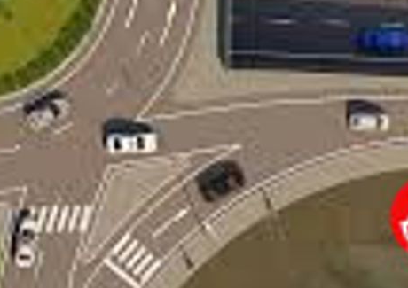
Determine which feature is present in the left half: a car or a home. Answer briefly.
car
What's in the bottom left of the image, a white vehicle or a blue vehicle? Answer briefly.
white vehicle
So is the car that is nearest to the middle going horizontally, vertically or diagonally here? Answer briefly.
diagonally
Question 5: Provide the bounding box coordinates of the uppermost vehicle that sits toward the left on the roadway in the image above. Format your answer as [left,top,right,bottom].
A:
[24,96,68,130]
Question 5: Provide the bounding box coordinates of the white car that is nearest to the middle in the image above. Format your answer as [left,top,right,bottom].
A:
[104,131,153,152]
